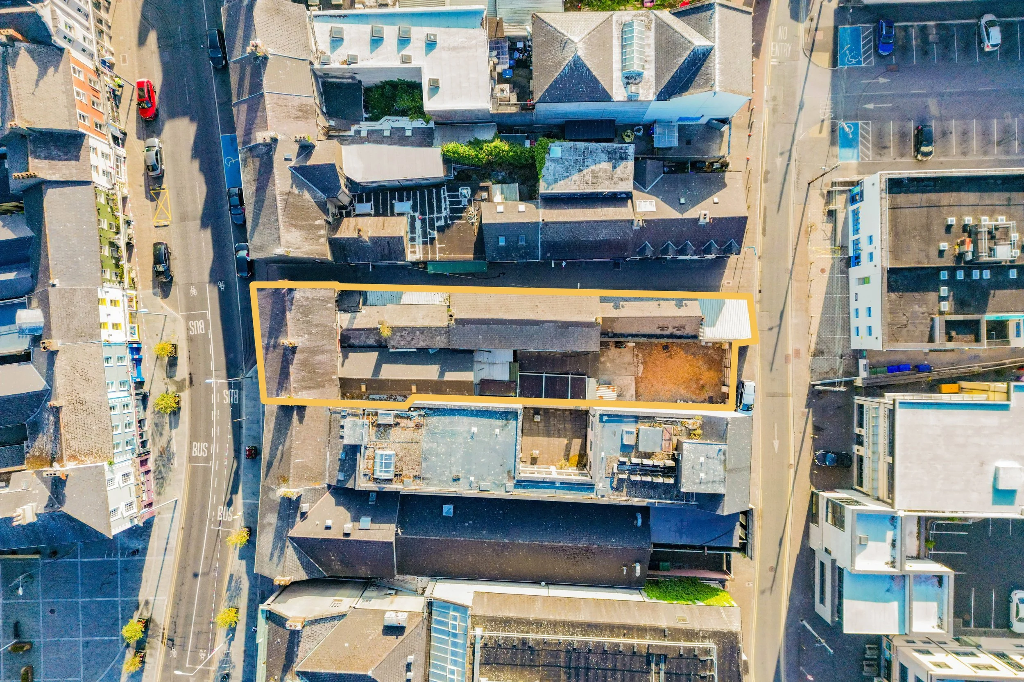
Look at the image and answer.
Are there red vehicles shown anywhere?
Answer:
Yes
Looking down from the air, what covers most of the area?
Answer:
buildings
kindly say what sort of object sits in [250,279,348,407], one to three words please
house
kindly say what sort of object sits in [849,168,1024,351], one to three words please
building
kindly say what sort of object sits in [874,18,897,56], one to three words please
car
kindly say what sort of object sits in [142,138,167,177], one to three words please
car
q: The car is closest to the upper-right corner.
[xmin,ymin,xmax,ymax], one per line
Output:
[976,13,1001,52]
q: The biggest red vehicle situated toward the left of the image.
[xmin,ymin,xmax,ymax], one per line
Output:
[136,80,160,119]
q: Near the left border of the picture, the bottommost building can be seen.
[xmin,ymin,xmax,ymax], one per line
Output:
[0,459,148,551]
